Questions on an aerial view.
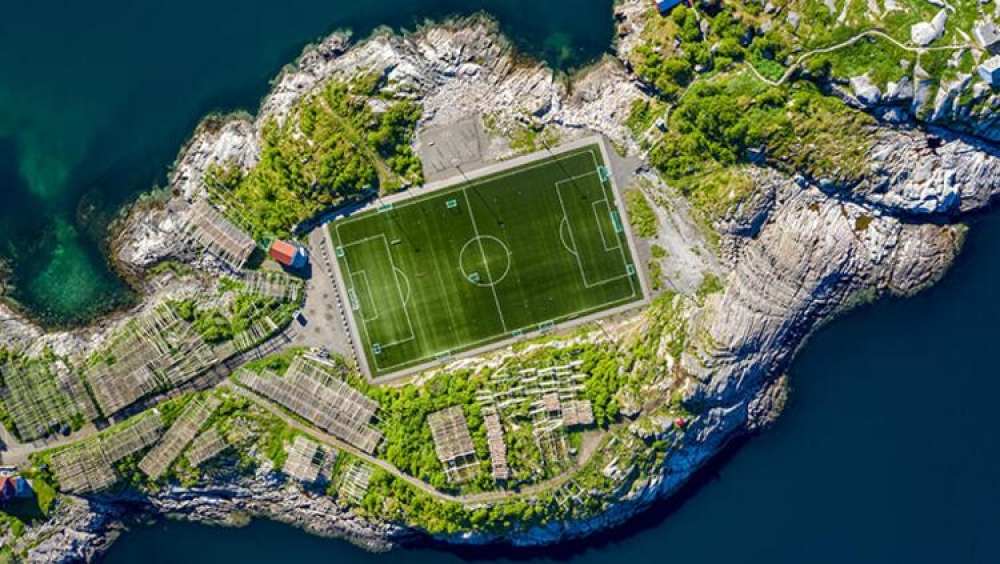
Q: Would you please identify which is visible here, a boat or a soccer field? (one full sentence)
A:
I can see a soccer field in this picture.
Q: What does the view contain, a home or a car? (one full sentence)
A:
Of the two, only a home appears.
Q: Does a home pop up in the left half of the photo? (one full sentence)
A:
Yes, a home can be seen in the left half of the photo.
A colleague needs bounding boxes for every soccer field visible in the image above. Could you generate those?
[320,135,651,384]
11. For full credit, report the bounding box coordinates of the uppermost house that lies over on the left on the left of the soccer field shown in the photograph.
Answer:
[266,235,304,268]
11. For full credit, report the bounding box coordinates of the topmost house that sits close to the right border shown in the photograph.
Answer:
[966,12,1000,58]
